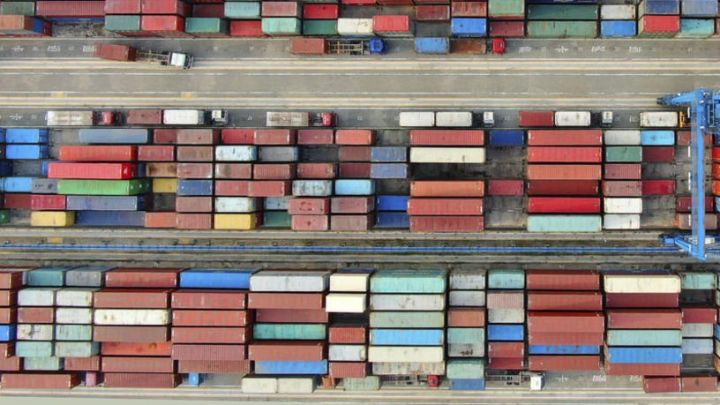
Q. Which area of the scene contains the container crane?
right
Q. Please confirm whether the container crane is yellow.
No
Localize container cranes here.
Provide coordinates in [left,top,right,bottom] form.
[658,86,720,262]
